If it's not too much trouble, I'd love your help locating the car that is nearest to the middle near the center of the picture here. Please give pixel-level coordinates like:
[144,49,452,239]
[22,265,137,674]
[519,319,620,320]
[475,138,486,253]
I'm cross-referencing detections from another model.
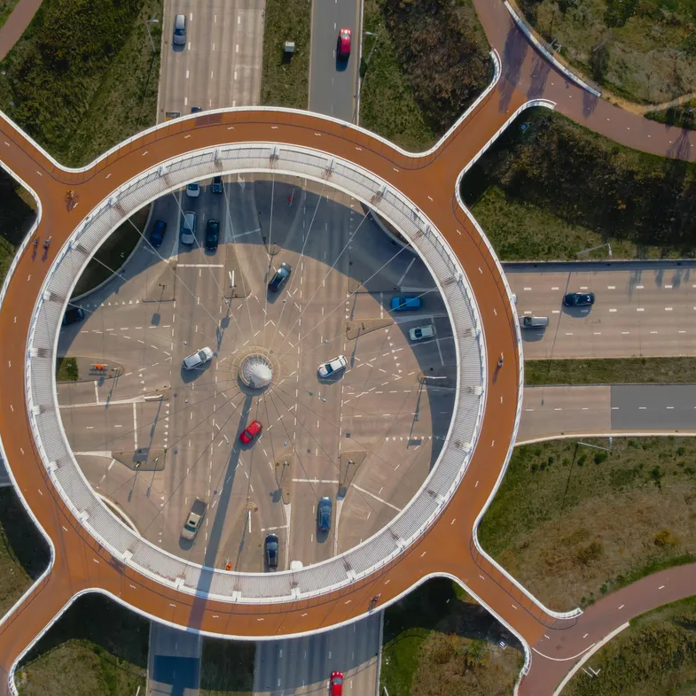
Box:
[317,355,348,378]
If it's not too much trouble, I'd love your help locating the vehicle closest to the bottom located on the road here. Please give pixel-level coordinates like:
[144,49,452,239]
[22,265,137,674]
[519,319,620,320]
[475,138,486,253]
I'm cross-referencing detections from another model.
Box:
[329,669,344,696]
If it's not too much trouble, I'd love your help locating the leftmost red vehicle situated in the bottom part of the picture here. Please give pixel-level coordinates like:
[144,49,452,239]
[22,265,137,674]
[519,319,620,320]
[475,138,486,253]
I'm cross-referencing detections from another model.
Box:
[237,419,264,446]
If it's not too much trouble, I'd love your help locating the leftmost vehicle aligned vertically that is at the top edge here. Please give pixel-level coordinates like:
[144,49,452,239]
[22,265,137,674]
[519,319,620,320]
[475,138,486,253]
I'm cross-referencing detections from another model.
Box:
[172,13,187,47]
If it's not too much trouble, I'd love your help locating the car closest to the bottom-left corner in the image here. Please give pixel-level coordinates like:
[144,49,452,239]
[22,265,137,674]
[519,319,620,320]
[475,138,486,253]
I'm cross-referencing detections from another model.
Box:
[182,497,207,542]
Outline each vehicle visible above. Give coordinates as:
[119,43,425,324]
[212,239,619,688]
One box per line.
[181,211,196,245]
[182,497,207,542]
[318,497,334,532]
[172,13,187,47]
[150,217,167,246]
[266,263,290,295]
[205,218,219,250]
[289,560,301,570]
[521,315,547,329]
[65,308,86,324]
[409,326,436,340]
[329,669,344,696]
[317,355,348,378]
[182,346,215,370]
[237,419,264,446]
[337,29,351,58]
[562,291,595,307]
[390,296,421,310]
[264,533,279,566]
[209,178,225,196]
[185,184,201,199]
